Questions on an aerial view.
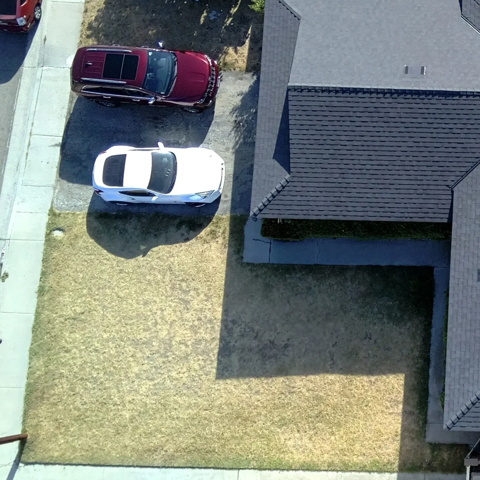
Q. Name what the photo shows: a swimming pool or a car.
car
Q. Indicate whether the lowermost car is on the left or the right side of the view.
left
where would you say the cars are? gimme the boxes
[68,41,223,114]
[0,0,41,34]
[92,141,227,208]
